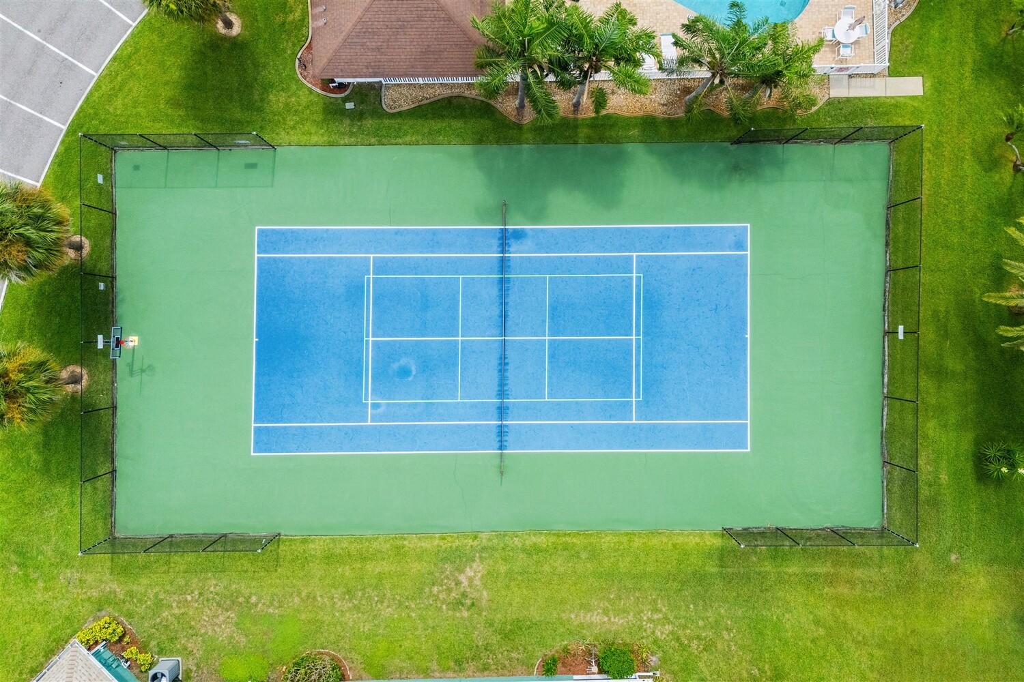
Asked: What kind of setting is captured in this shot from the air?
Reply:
sports ground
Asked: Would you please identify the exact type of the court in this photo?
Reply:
tennis court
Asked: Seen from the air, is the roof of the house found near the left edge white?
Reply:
Yes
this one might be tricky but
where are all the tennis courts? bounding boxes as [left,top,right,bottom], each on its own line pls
[111,140,893,539]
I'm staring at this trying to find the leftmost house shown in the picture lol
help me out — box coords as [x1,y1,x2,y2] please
[33,641,116,682]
